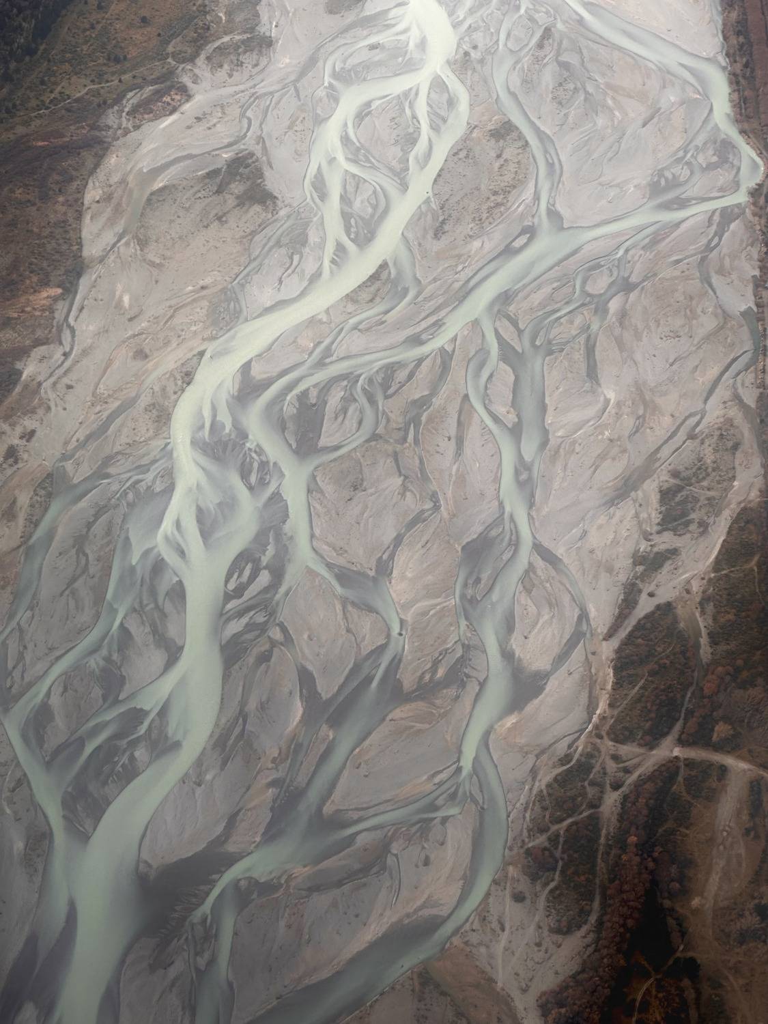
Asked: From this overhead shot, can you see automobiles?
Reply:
No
